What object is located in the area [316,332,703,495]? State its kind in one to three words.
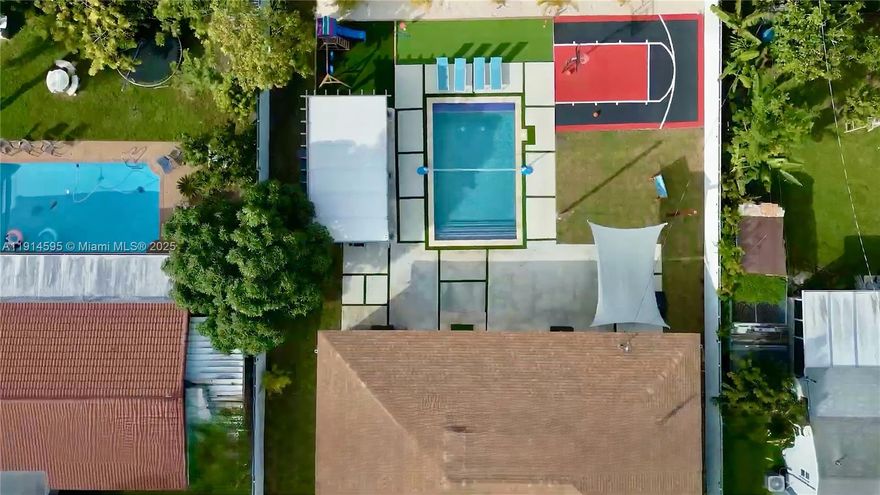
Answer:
house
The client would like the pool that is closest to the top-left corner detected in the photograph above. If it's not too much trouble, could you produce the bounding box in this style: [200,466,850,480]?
[0,141,188,252]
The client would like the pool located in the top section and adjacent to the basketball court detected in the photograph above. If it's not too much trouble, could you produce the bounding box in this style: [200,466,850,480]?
[429,96,528,246]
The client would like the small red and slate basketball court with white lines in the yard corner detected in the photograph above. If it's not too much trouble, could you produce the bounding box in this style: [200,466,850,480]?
[554,16,705,131]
